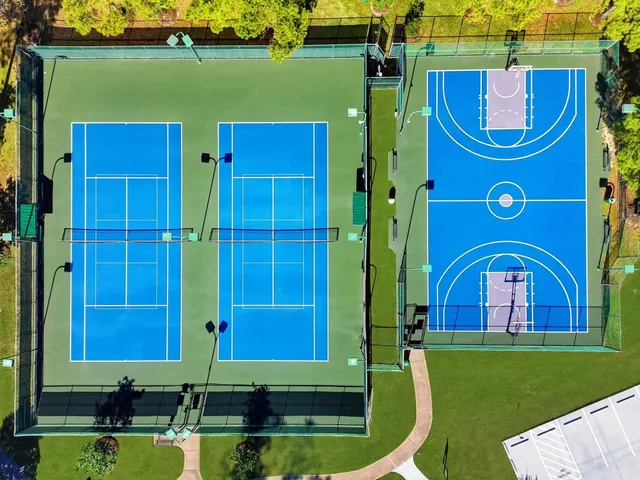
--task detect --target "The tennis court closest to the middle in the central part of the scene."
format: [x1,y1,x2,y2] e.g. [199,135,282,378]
[218,123,328,361]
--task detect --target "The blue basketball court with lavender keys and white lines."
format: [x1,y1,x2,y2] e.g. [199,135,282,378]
[428,69,588,332]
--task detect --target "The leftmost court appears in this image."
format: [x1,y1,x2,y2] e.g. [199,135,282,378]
[71,123,181,361]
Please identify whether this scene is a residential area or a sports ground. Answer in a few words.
sports ground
